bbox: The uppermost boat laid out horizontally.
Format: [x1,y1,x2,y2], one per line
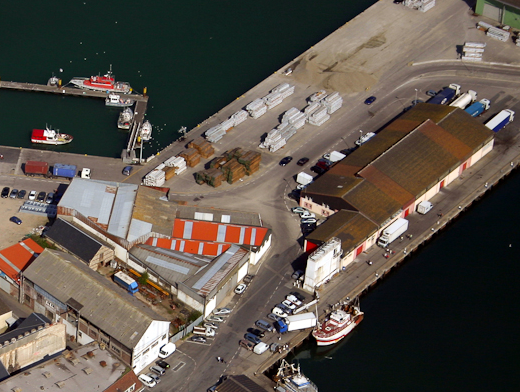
[68,68,133,95]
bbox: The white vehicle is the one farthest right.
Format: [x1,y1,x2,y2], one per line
[480,106,516,133]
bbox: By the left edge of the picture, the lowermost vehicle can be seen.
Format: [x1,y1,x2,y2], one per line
[8,214,24,226]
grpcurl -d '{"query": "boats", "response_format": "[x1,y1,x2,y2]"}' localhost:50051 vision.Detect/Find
[273,364,320,392]
[119,108,132,130]
[49,75,57,88]
[68,68,133,95]
[142,119,151,143]
[105,94,132,107]
[311,305,369,349]
[31,126,75,145]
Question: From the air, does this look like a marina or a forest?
marina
